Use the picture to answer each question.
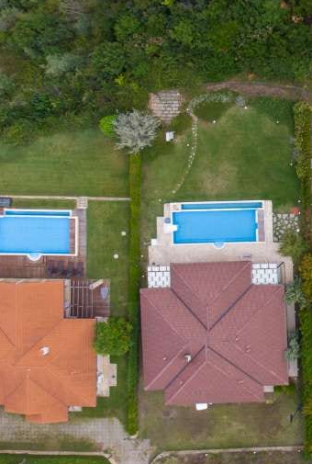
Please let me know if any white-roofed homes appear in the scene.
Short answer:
No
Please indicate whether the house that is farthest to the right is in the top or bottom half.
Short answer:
bottom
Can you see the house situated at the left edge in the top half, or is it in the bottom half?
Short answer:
bottom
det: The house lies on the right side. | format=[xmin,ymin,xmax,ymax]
[140,260,290,412]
